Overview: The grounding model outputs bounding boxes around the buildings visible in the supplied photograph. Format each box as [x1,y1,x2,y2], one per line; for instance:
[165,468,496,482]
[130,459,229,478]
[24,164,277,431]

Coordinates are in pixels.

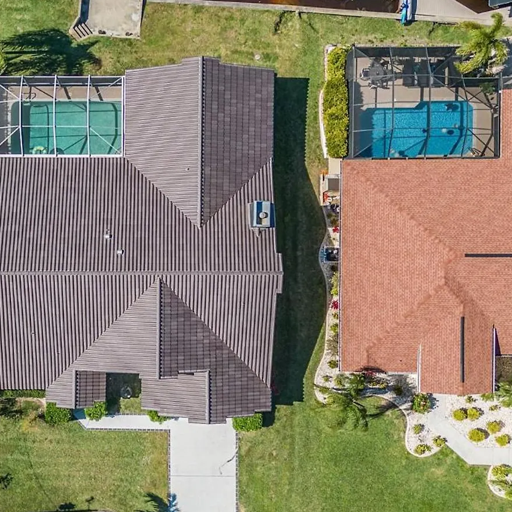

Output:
[0,56,284,424]
[336,88,512,442]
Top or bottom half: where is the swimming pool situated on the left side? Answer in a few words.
top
